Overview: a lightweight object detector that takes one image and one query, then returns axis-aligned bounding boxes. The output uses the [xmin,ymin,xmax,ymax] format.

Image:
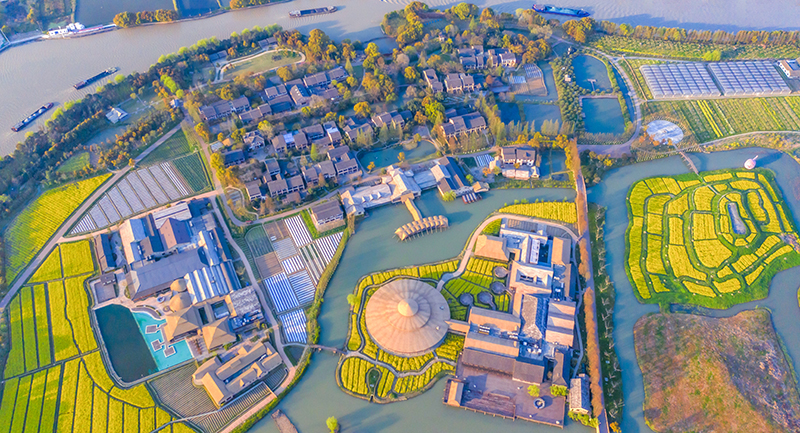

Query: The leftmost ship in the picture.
[8,102,54,131]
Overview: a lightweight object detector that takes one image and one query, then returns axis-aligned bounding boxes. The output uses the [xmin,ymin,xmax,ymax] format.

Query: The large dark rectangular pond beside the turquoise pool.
[94,300,159,388]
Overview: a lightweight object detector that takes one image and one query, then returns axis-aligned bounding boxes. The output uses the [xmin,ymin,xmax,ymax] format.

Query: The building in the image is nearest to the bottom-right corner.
[568,379,588,414]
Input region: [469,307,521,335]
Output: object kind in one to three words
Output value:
building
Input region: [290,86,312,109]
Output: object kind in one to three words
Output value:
house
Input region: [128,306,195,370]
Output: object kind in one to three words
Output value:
swimming pool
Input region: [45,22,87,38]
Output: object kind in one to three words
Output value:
boat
